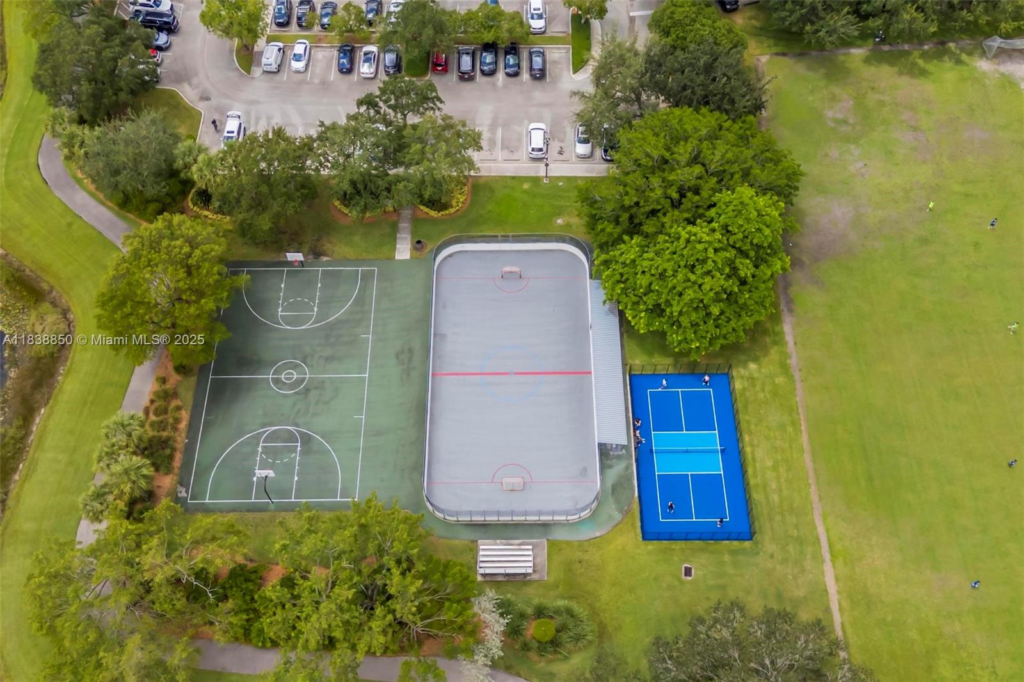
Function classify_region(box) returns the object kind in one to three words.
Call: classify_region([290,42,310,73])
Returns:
car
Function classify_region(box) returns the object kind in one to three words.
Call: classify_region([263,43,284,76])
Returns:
vehicle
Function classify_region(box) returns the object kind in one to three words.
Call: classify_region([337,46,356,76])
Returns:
car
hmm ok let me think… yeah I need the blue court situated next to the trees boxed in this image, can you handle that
[629,373,752,540]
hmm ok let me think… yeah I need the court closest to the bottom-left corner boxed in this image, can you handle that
[176,260,395,514]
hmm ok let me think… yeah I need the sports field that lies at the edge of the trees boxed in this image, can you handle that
[763,42,1024,682]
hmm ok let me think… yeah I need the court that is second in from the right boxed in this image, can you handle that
[421,232,603,523]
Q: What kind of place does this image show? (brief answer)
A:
sports ground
